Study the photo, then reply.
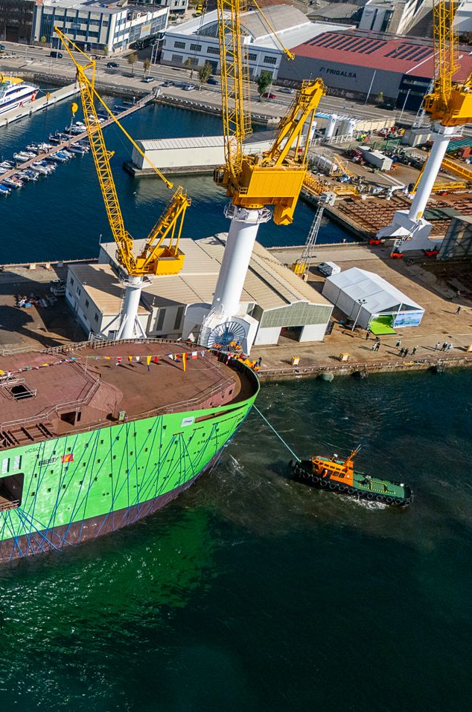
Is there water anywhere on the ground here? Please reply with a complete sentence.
Yes, water shows up in the scene.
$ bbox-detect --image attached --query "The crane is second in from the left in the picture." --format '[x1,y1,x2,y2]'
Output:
[176,0,323,368]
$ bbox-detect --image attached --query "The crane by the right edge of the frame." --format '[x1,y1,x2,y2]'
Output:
[353,0,472,247]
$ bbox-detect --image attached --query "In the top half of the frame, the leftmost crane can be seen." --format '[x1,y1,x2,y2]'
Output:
[45,28,195,338]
